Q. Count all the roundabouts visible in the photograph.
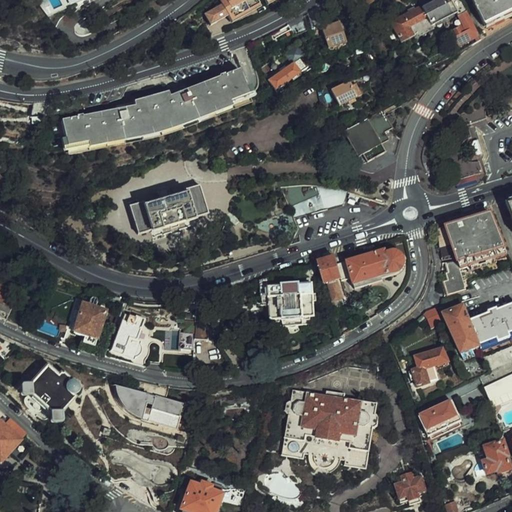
1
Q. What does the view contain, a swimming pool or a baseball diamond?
swimming pool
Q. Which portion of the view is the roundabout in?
right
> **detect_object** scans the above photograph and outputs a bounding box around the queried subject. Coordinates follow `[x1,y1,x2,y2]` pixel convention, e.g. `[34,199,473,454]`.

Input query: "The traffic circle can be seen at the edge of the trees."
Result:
[384,184,440,234]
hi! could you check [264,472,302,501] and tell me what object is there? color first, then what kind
white swimming pool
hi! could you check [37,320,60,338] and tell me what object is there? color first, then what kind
blue swimming pool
